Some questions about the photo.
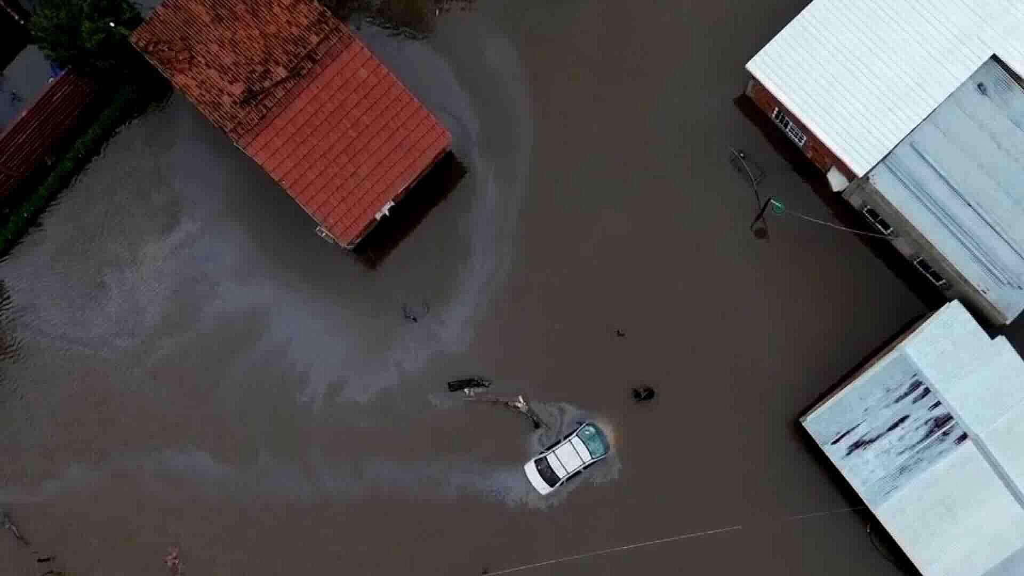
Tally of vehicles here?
1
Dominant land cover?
water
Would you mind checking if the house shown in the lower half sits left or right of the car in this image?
right of it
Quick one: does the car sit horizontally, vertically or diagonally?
diagonally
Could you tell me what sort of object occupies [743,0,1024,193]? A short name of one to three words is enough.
house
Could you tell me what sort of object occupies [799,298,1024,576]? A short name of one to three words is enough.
house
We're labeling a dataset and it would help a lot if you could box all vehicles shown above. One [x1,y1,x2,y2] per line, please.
[524,419,611,494]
